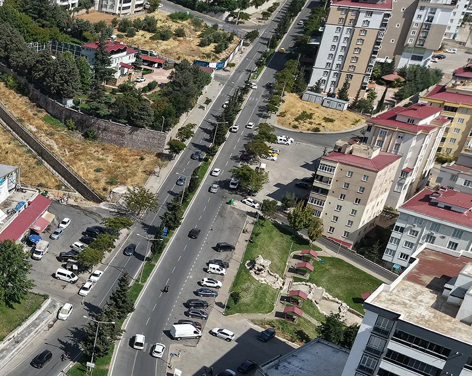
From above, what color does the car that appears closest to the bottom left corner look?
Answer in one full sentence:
From above, the car that appears closest to the bottom left corner appears black.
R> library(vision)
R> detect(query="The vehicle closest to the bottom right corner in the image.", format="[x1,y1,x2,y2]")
[256,325,278,344]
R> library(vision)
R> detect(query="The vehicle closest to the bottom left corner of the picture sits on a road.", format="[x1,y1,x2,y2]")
[30,348,54,370]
